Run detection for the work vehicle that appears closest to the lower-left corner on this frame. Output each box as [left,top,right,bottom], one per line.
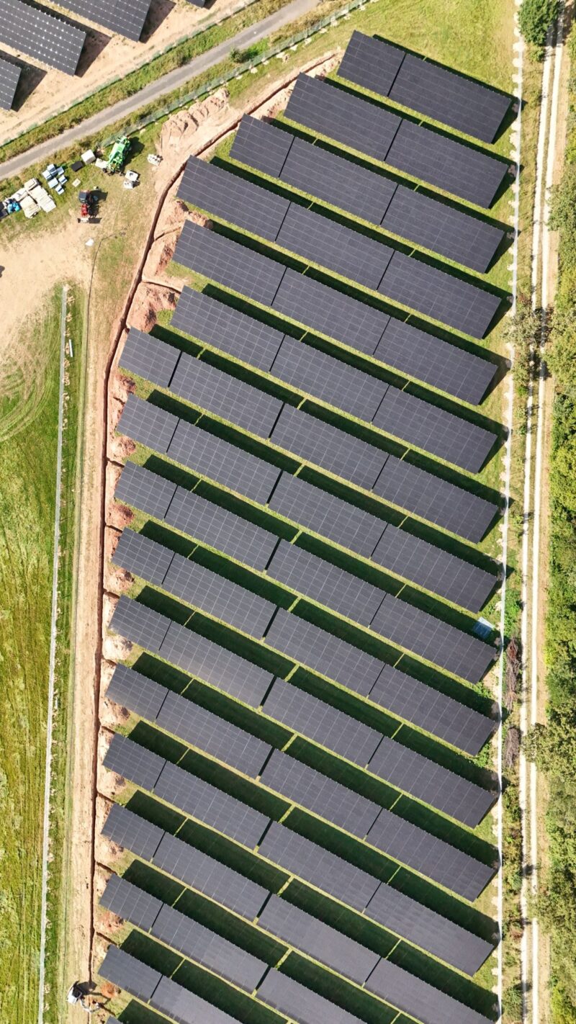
[64,979,103,1014]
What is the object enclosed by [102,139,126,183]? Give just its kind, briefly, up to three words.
work vehicle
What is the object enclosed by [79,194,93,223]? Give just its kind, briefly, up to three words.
work vehicle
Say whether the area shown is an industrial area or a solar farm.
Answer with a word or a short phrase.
solar farm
